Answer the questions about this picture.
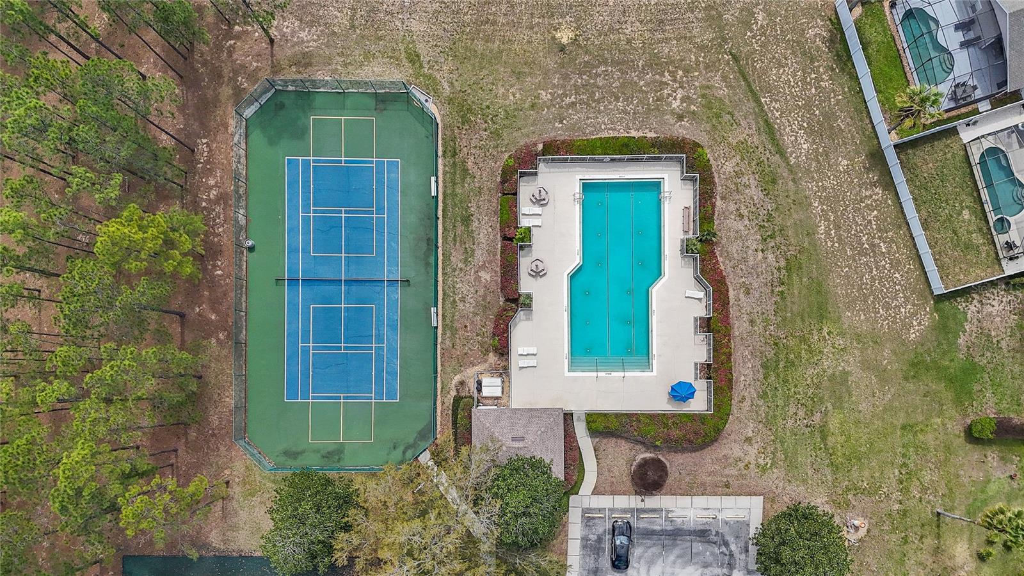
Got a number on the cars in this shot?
one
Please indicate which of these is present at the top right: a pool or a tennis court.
pool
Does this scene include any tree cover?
Yes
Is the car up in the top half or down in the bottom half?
bottom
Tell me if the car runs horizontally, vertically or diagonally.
vertically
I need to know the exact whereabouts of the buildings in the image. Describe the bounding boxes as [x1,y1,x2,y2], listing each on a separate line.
[471,408,565,485]
[972,0,1024,103]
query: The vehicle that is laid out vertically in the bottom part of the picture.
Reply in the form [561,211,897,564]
[611,520,634,570]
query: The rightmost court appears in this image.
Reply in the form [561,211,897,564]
[246,92,438,467]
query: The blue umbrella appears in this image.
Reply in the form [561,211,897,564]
[669,380,695,405]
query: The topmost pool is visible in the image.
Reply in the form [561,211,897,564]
[900,5,956,87]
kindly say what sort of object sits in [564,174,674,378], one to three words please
swimming pool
